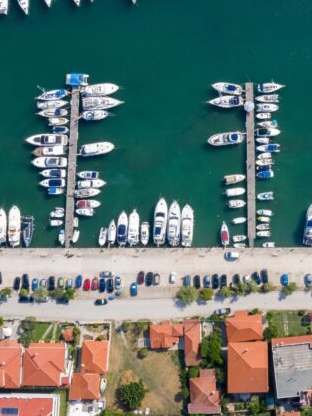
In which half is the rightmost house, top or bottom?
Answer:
bottom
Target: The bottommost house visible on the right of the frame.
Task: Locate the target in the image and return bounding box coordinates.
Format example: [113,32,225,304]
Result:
[188,369,220,412]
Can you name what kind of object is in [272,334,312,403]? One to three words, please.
house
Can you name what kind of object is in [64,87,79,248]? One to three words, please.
pier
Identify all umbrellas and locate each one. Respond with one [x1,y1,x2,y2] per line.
[244,102,254,112]
[4,327,13,336]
